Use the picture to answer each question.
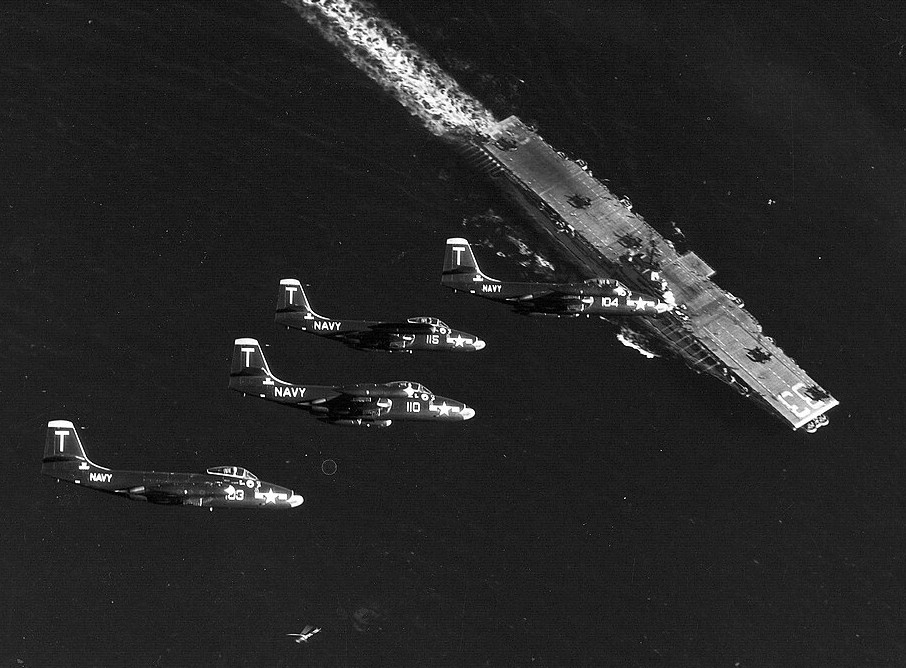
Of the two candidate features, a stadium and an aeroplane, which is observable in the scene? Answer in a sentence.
Visible in the photo is an aeroplane.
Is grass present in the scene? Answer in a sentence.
No, there is no grass in the image.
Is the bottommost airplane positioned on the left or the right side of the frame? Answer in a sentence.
It is on the left.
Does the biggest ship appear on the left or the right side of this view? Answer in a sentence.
The biggest ship is on the right side of the image.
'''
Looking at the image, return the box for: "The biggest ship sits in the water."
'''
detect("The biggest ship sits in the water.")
[463,116,840,433]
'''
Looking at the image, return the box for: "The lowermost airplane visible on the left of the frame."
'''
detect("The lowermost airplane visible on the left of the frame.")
[41,420,303,511]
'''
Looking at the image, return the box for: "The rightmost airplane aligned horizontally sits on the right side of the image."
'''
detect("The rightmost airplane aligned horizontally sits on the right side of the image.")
[441,238,670,320]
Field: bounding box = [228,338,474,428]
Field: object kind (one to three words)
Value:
airplane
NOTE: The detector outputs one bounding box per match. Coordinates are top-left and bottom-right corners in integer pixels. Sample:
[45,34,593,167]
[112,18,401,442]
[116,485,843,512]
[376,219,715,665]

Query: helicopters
[291,621,319,645]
